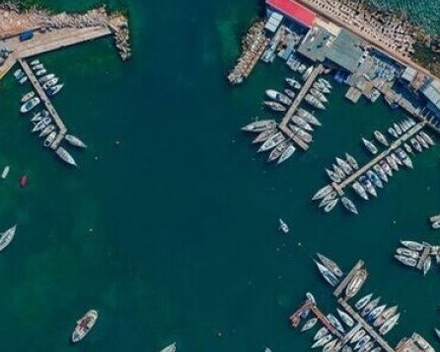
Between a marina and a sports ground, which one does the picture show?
marina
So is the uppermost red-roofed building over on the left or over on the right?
right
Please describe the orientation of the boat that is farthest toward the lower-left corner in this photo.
at an angle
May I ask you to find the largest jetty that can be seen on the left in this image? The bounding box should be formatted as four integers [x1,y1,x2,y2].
[17,59,65,132]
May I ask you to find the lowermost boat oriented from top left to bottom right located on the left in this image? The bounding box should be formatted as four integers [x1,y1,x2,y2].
[55,148,76,166]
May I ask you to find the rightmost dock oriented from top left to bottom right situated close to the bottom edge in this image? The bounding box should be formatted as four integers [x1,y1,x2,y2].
[338,296,393,352]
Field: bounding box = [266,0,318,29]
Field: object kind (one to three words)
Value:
building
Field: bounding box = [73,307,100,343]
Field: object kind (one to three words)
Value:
boat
